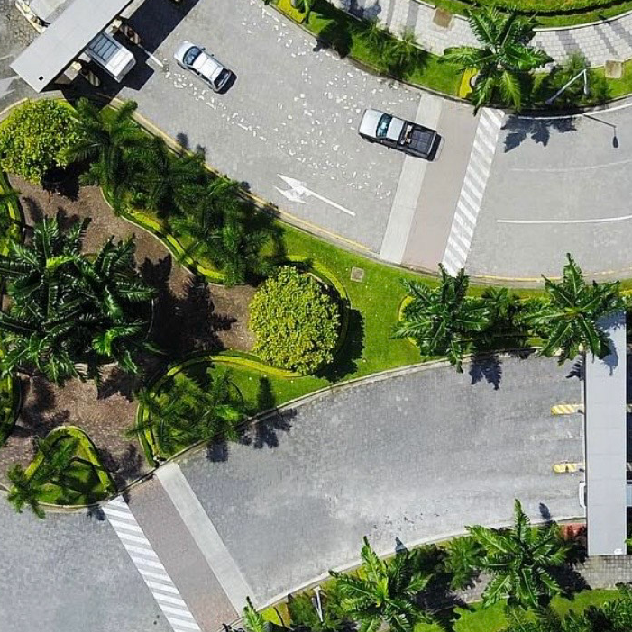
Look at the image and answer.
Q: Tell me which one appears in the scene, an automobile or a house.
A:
automobile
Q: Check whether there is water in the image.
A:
No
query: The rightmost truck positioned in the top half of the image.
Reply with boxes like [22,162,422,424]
[357,110,444,159]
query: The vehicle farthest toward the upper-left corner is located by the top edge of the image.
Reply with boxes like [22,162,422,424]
[91,28,144,86]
